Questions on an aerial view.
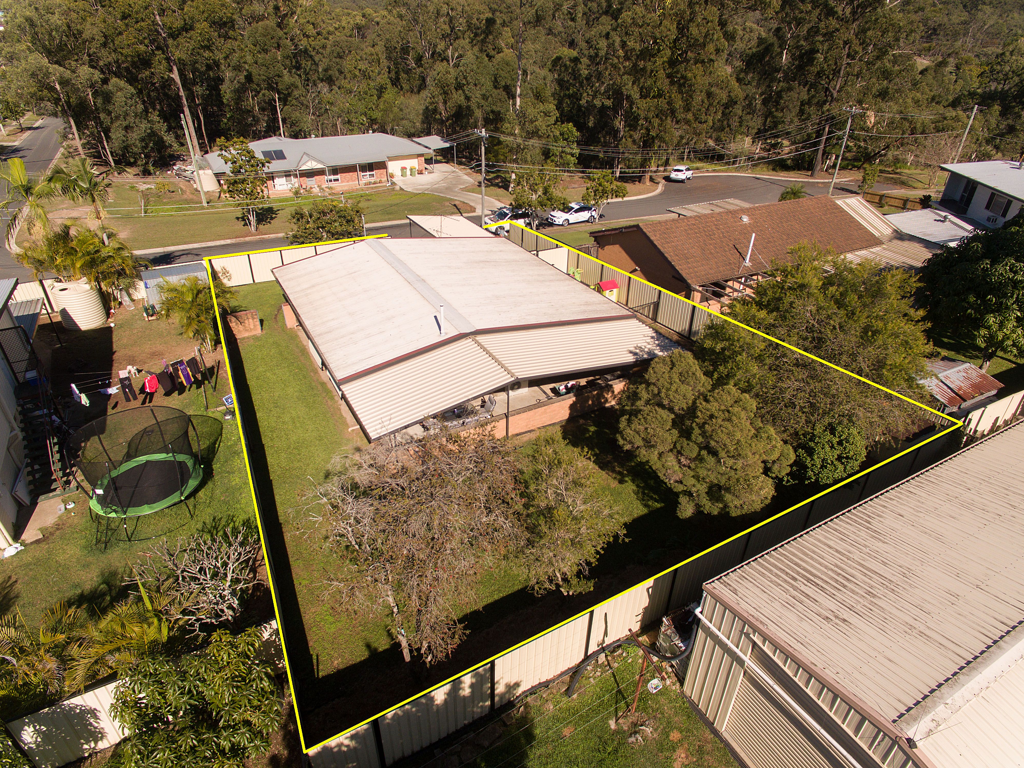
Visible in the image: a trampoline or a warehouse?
trampoline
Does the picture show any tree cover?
Yes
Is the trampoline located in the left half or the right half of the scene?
left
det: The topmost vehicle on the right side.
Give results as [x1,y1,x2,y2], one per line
[673,164,699,182]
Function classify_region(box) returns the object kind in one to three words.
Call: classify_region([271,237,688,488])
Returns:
house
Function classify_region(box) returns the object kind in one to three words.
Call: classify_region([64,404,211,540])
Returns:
trampoline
